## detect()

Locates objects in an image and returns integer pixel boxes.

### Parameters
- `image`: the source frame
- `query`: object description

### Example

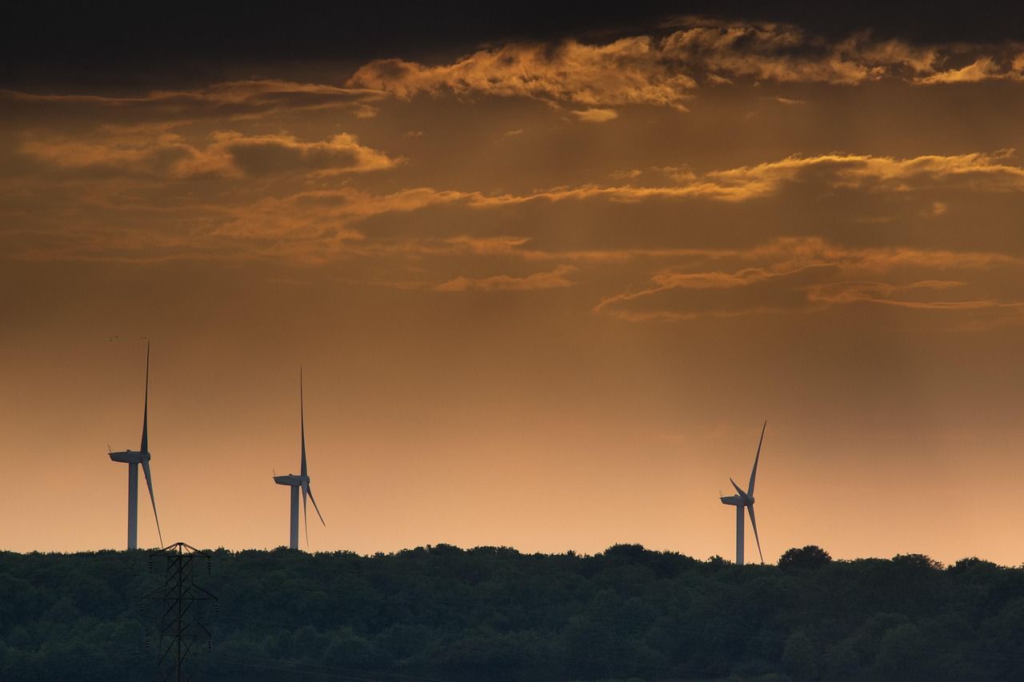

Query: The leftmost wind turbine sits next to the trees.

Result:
[108,345,166,551]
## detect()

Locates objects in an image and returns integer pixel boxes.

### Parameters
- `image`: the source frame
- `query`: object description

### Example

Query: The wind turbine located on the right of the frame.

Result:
[718,423,767,567]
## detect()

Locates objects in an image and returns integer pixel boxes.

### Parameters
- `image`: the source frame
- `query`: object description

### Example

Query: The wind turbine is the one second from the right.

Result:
[271,367,325,549]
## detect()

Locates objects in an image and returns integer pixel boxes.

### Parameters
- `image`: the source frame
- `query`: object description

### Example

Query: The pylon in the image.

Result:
[137,543,221,682]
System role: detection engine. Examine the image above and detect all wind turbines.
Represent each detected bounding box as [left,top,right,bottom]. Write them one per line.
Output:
[108,345,166,551]
[271,367,325,549]
[718,423,767,567]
